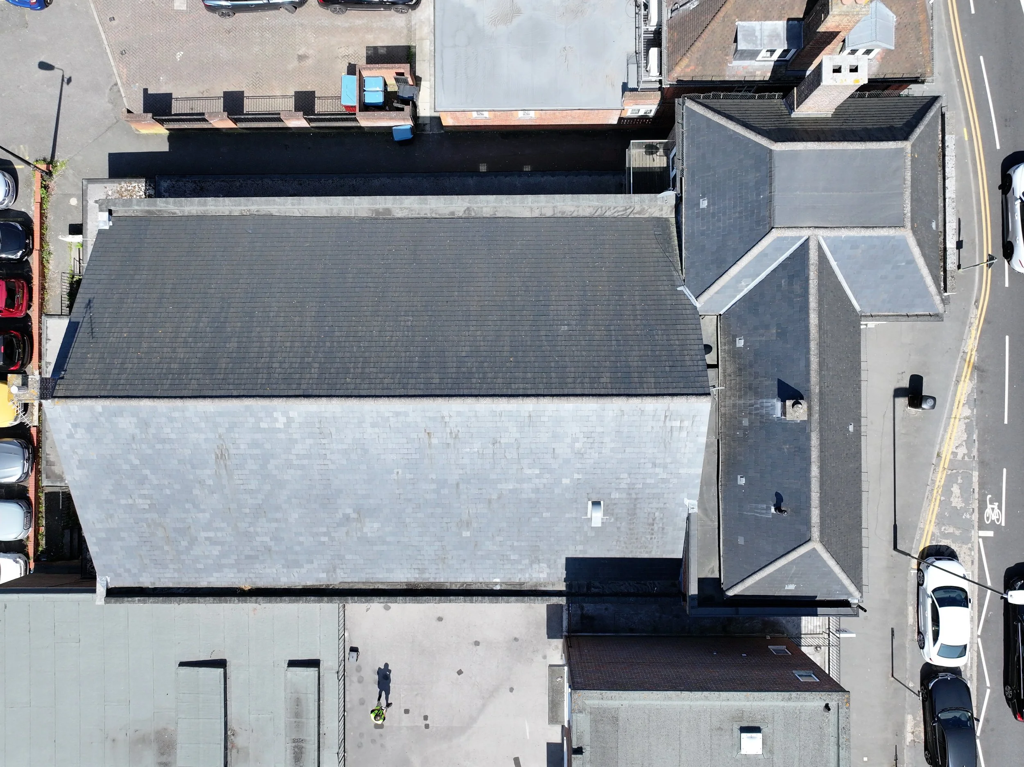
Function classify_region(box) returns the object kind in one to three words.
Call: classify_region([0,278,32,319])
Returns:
car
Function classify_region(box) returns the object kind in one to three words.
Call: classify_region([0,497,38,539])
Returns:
car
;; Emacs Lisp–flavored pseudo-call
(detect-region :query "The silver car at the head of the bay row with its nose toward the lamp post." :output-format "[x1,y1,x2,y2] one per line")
[0,171,20,213]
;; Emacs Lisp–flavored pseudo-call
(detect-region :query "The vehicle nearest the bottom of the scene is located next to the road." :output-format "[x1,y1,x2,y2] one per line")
[922,668,988,767]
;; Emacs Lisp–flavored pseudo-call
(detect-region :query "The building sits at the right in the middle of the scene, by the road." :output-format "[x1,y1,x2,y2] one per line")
[665,53,957,617]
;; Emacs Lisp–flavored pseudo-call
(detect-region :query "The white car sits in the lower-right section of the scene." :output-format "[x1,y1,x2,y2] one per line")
[916,554,978,667]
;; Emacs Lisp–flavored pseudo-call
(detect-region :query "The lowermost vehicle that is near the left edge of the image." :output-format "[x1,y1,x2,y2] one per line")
[0,550,33,588]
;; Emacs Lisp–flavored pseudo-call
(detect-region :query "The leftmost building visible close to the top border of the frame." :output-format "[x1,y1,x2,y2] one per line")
[434,0,643,130]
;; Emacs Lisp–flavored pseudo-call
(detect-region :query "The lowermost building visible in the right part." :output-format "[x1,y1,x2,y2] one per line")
[548,607,851,767]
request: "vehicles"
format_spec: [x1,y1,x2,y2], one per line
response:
[0,278,32,319]
[317,0,419,14]
[0,223,34,265]
[0,383,26,424]
[0,171,20,213]
[0,440,33,482]
[1001,166,1024,275]
[0,497,38,539]
[0,331,33,371]
[916,554,978,667]
[922,668,988,767]
[0,550,33,588]
[1004,585,1024,713]
[1,0,53,12]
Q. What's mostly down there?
buildings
